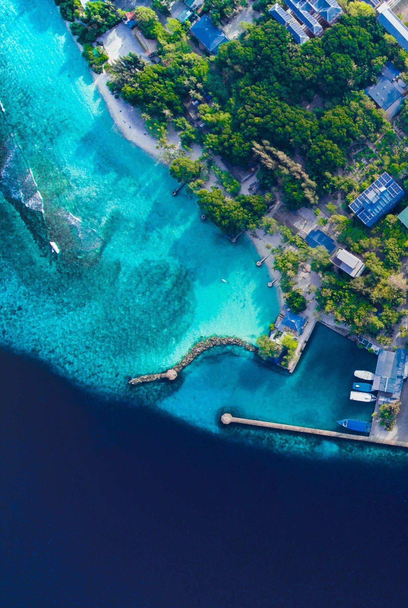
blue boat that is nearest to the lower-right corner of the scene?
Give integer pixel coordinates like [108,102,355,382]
[336,419,371,432]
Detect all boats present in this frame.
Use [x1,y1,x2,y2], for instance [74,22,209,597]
[349,393,377,403]
[352,383,372,392]
[353,370,375,380]
[336,419,371,432]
